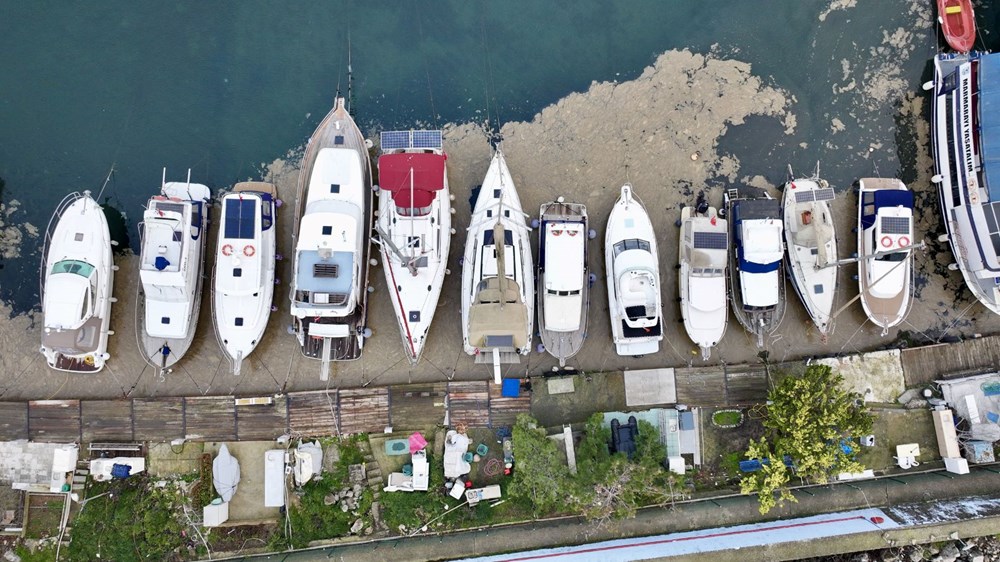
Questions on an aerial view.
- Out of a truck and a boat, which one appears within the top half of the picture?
boat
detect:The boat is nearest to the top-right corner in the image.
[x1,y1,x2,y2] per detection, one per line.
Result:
[936,0,982,53]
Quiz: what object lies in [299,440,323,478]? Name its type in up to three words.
boat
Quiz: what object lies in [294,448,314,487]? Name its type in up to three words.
boat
